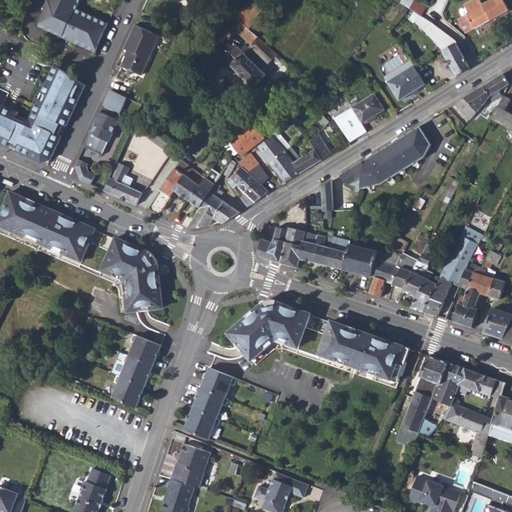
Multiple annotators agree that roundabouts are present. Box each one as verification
[188,229,254,295]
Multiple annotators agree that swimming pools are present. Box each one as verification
[466,493,492,512]
[454,460,477,490]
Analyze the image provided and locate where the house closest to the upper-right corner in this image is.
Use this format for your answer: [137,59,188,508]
[457,0,509,32]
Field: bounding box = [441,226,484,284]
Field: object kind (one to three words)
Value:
building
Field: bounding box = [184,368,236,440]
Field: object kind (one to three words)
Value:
house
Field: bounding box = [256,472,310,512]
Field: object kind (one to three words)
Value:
house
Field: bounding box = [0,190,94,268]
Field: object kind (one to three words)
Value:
building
